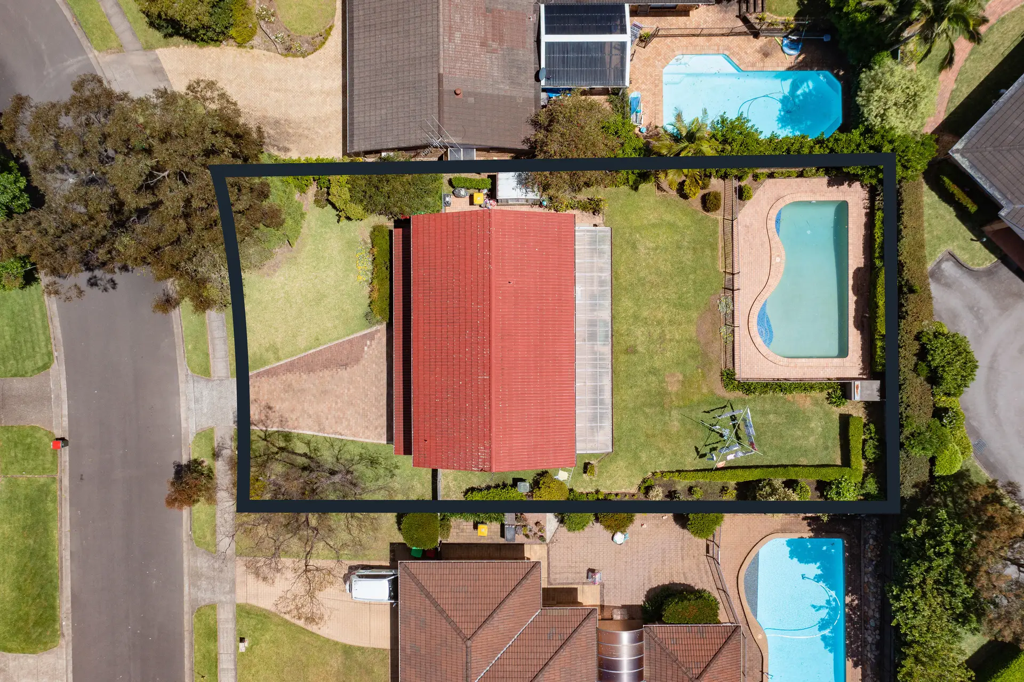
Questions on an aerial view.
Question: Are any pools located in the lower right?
Yes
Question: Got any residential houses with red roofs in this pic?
Yes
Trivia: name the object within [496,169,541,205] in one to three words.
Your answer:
shed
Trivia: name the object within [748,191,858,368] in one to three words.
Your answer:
swimming pool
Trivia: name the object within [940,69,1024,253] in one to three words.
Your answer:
house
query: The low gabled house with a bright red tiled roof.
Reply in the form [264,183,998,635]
[391,208,578,473]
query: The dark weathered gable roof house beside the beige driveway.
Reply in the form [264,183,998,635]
[345,0,541,166]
